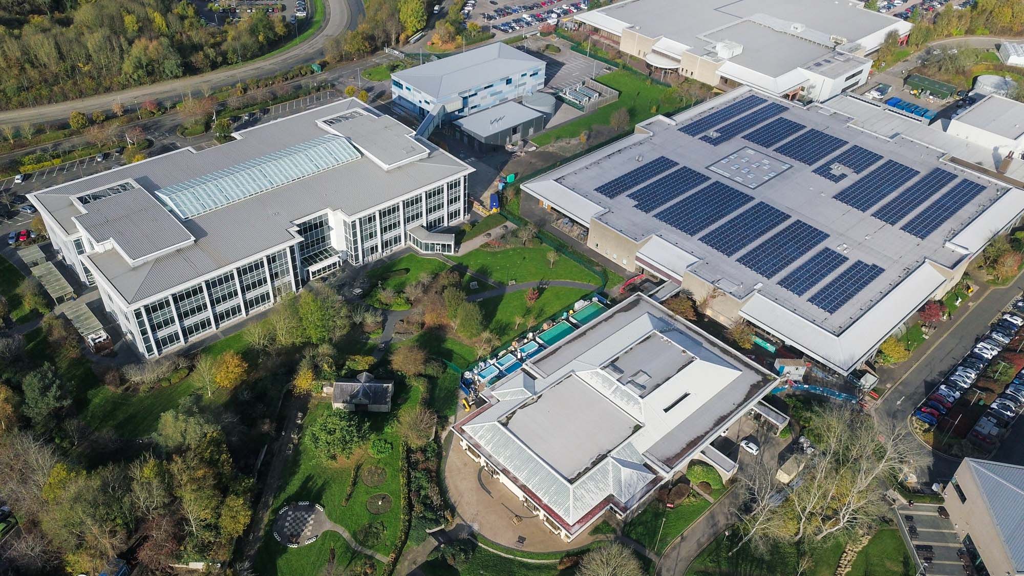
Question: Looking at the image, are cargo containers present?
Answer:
Yes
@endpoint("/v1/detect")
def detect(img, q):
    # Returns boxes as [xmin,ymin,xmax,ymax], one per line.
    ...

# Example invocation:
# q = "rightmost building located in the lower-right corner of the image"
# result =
[949,457,1024,576]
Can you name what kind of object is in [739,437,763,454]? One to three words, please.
car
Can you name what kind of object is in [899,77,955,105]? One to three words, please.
shed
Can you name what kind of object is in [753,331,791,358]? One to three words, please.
shipping container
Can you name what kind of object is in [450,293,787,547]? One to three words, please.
building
